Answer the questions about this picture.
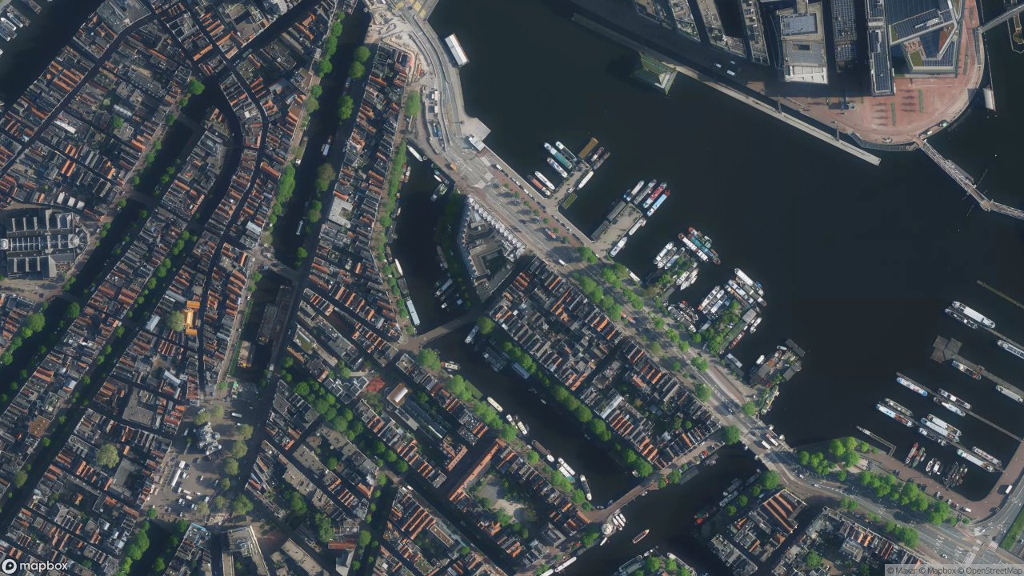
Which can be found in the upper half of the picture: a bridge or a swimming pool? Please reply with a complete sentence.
It is a bridge that can be seen in the upper half of the picture.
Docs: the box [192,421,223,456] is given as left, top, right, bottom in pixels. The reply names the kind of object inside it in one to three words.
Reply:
house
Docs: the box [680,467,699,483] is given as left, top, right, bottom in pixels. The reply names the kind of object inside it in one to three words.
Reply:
boat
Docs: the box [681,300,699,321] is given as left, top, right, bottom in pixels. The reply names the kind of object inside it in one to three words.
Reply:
boat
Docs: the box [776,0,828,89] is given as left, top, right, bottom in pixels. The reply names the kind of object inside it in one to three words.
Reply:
building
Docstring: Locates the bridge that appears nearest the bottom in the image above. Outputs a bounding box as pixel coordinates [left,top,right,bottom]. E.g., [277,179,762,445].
[585,478,662,527]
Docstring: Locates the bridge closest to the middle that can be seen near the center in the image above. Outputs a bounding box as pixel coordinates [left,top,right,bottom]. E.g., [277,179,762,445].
[412,308,486,349]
